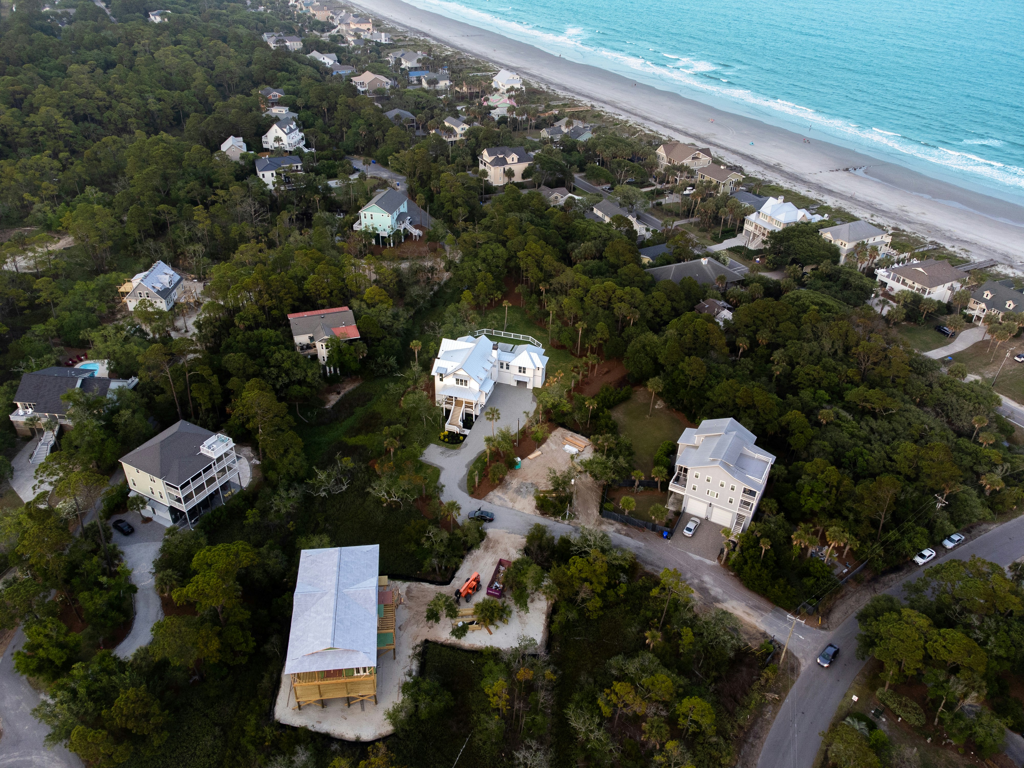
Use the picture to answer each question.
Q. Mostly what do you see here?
trees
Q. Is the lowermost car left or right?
right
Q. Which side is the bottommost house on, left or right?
left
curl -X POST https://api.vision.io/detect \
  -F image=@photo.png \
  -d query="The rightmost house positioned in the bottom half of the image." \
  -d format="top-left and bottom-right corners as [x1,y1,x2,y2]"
[667,419,776,533]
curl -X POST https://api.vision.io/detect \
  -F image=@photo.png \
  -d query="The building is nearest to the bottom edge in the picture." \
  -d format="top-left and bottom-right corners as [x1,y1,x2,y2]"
[285,544,415,714]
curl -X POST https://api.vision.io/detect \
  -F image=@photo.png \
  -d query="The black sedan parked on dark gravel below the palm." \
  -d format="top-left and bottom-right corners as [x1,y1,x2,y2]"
[110,517,136,533]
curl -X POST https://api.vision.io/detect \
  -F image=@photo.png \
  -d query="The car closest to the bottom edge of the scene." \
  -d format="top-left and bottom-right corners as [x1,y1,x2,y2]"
[818,641,843,668]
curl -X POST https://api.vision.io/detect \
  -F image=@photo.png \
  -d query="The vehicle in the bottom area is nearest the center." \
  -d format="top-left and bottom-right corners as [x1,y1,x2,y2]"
[468,507,495,521]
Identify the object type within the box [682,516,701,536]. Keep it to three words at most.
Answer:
car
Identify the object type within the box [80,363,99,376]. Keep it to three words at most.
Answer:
swimming pool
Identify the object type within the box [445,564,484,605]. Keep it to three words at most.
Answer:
work vehicle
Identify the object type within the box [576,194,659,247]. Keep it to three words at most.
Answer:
house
